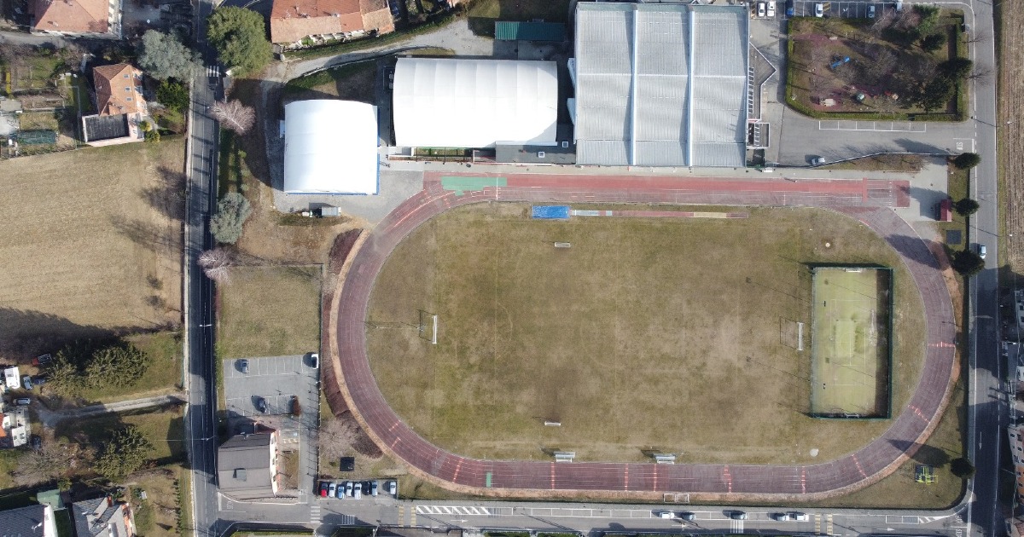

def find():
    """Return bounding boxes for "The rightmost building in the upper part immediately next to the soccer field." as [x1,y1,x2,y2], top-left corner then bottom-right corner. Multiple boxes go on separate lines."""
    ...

[567,1,750,170]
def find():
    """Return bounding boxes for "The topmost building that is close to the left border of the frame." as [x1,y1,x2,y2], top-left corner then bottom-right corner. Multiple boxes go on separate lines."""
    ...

[33,0,121,39]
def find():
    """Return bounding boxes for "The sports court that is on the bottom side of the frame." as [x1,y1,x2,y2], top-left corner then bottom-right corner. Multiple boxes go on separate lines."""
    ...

[813,270,889,417]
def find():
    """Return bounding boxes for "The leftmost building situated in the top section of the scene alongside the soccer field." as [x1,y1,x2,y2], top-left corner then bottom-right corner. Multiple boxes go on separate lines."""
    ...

[285,99,380,194]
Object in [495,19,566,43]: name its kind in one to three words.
shed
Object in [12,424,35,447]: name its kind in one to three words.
shed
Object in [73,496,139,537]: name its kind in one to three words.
house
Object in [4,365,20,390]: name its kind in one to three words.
camper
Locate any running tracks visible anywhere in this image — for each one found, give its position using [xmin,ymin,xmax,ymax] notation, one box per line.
[337,172,955,494]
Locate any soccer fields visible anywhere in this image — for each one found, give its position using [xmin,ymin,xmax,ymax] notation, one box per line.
[366,201,927,466]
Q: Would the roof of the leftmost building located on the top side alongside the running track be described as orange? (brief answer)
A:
No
